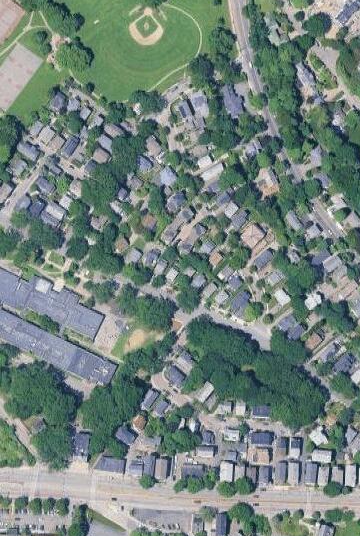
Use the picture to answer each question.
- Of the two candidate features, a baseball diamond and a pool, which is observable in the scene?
baseball diamond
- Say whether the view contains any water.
No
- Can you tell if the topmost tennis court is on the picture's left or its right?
left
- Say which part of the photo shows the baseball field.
top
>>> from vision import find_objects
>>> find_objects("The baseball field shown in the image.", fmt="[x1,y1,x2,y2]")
[96,2,199,95]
